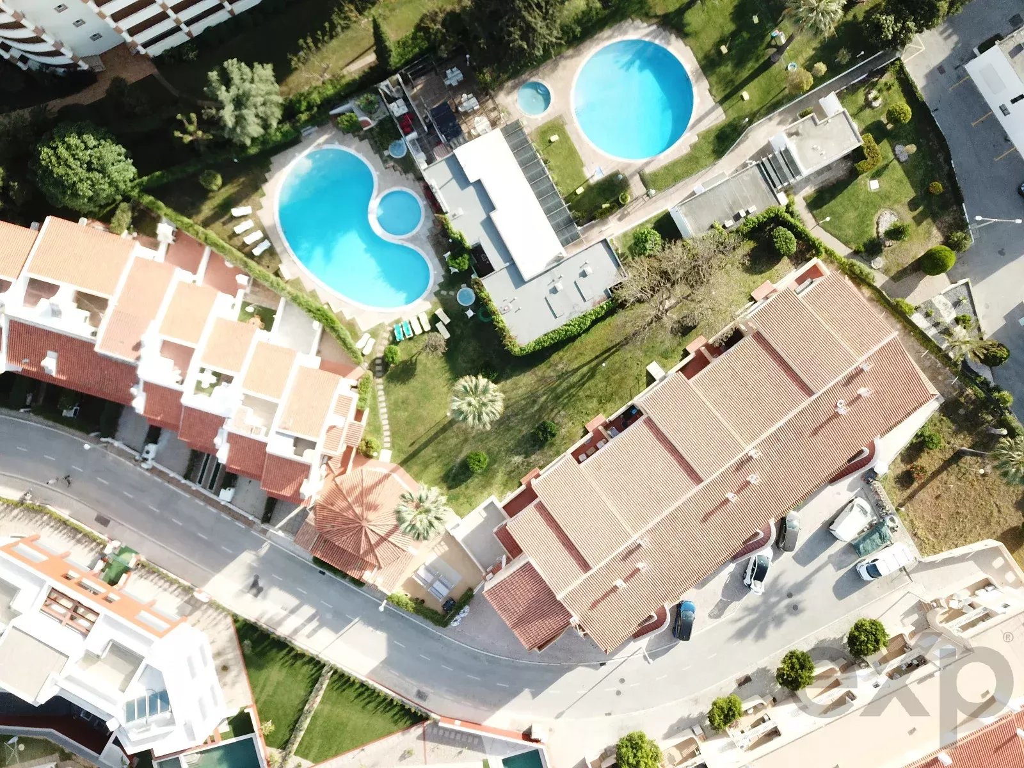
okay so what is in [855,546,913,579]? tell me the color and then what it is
white van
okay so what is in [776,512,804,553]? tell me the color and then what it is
gray car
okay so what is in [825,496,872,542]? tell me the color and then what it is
white van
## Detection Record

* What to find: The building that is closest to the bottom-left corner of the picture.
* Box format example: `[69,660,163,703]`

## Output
[0,525,226,757]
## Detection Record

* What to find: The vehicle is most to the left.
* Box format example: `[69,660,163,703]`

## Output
[673,599,697,642]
